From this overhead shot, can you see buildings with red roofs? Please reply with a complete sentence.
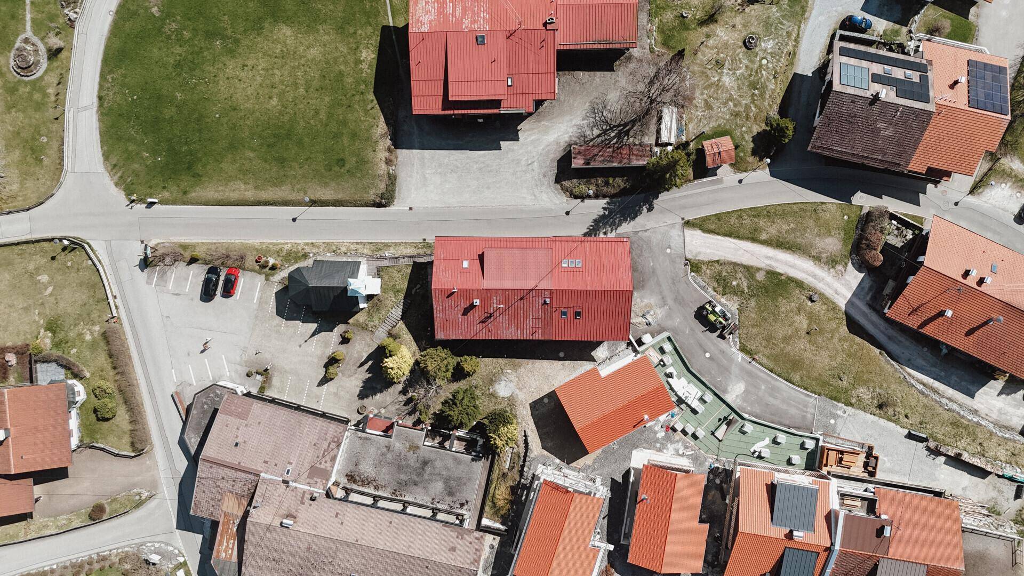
Yes, the photo shows a building with a red roof.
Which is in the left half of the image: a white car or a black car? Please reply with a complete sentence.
Visible in the left half of the image is a black car.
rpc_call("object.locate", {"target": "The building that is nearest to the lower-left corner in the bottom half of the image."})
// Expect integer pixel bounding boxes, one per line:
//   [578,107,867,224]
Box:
[0,473,44,516]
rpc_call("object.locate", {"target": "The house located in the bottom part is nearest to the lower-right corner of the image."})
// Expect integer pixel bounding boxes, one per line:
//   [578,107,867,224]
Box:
[833,486,965,576]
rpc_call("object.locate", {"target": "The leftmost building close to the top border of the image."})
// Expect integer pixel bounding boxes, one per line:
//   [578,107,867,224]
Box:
[409,0,556,118]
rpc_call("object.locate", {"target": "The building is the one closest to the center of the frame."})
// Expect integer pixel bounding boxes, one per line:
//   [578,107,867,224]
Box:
[431,237,633,341]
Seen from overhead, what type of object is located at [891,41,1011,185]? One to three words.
house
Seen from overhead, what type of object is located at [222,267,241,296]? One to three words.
car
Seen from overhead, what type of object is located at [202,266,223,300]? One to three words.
car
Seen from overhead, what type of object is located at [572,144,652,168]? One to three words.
shed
